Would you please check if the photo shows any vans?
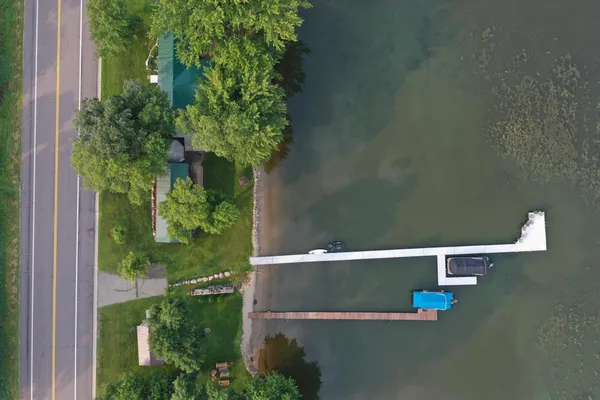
No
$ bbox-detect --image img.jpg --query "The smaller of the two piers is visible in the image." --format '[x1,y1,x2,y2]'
[248,308,437,320]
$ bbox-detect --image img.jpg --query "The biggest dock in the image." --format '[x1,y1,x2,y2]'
[250,212,548,285]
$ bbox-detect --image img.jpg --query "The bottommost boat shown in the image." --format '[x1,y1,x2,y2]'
[412,291,454,309]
